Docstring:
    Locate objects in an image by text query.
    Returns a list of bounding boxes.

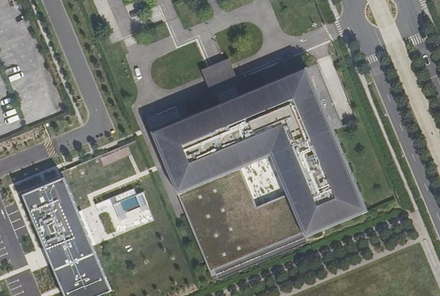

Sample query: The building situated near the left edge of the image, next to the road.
[21,164,111,296]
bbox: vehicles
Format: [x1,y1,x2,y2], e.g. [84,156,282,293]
[6,64,20,76]
[422,53,430,66]
[4,108,18,118]
[133,64,142,79]
[6,114,20,124]
[14,14,26,22]
[2,102,14,111]
[8,72,23,82]
[0,97,12,104]
[8,0,16,8]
